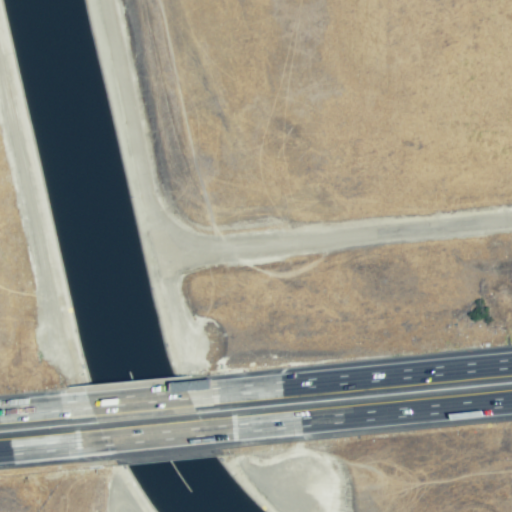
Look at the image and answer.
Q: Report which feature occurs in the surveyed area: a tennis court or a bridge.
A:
bridge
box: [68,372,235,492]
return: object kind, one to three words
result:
bridge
